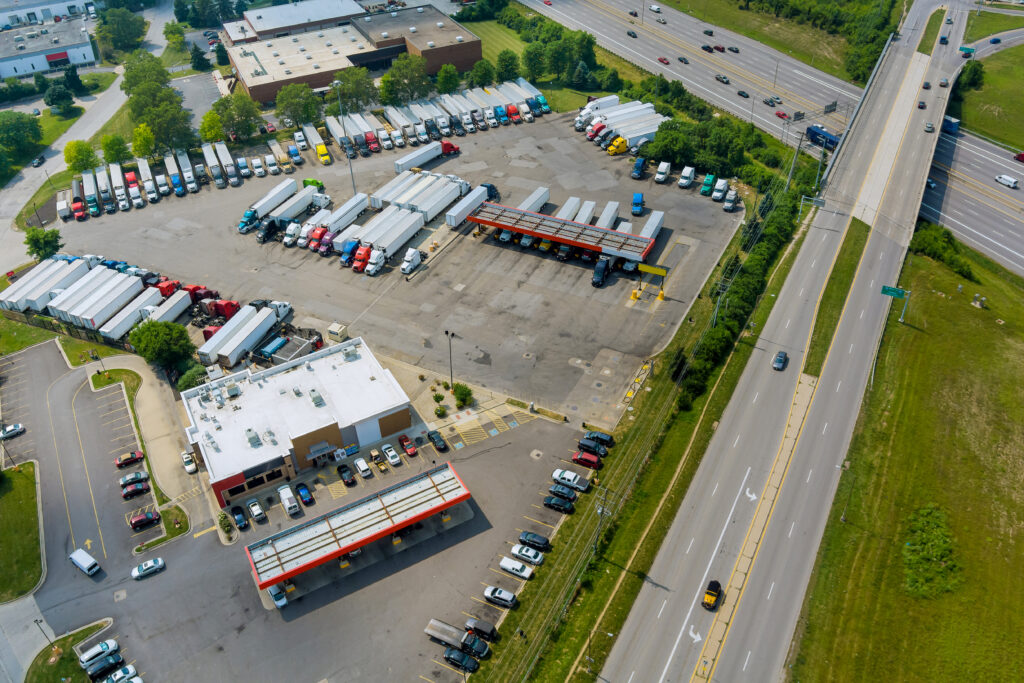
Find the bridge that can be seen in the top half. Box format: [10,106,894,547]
[814,48,954,250]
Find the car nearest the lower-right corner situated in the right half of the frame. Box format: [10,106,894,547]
[701,575,724,611]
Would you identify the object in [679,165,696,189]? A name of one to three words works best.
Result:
vehicle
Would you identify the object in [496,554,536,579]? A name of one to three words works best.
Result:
truck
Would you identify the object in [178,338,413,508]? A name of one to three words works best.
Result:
building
